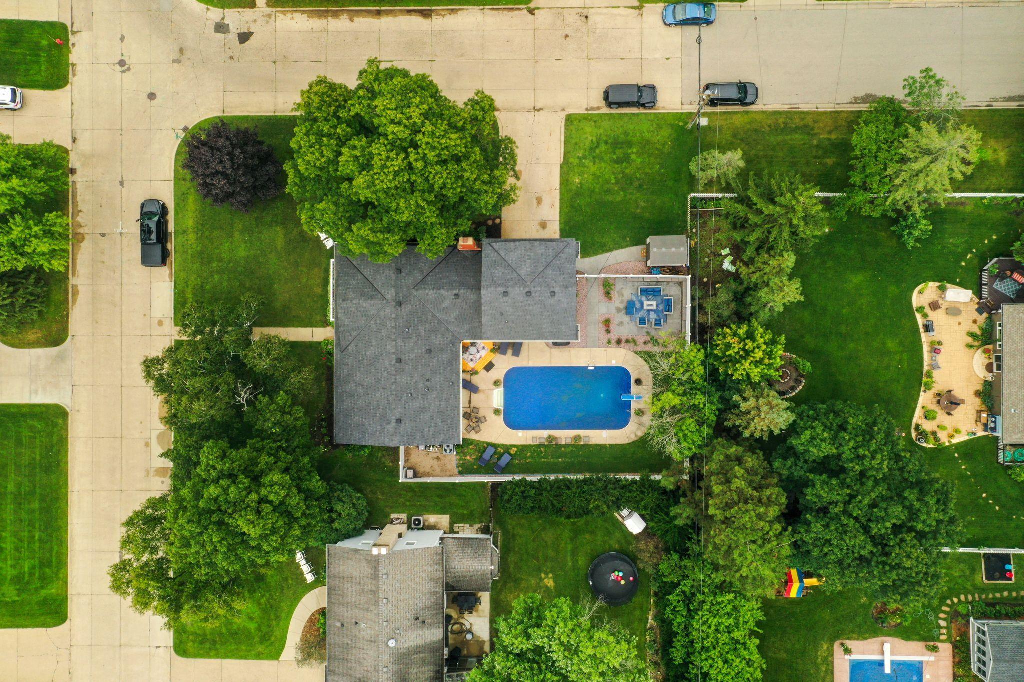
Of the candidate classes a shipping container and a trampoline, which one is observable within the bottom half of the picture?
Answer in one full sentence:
It is a trampoline that can be seen within the bottom half of the picture.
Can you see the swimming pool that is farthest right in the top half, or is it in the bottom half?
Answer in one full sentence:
You can find the swimming pool that is farthest right in the bottom half.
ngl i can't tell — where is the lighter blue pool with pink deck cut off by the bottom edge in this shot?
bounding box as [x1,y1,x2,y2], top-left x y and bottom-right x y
[850,660,925,682]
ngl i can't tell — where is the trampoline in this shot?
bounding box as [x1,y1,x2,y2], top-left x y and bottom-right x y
[589,553,643,613]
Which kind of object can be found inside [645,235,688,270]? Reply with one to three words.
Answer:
shed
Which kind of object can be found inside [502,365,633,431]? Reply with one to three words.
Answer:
swimming pool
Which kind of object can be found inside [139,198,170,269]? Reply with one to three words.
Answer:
truck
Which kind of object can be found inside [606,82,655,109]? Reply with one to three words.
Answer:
car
